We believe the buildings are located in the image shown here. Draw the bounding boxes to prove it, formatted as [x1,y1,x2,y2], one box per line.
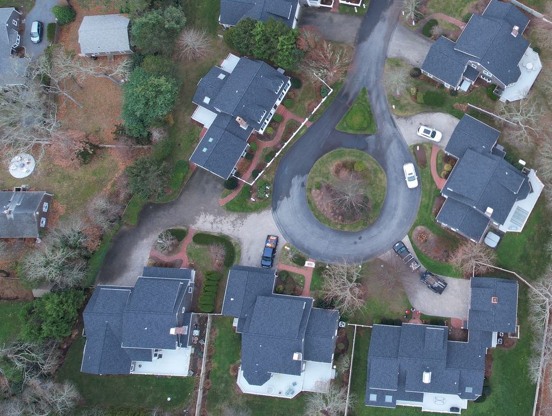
[366,277,518,415]
[222,263,339,400]
[189,50,293,180]
[79,13,129,61]
[0,185,52,238]
[220,0,322,34]
[436,114,544,250]
[421,0,543,104]
[0,8,36,92]
[81,268,201,377]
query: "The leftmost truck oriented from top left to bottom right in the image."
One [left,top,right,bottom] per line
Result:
[391,237,422,275]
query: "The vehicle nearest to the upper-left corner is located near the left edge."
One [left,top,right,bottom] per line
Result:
[27,19,44,45]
